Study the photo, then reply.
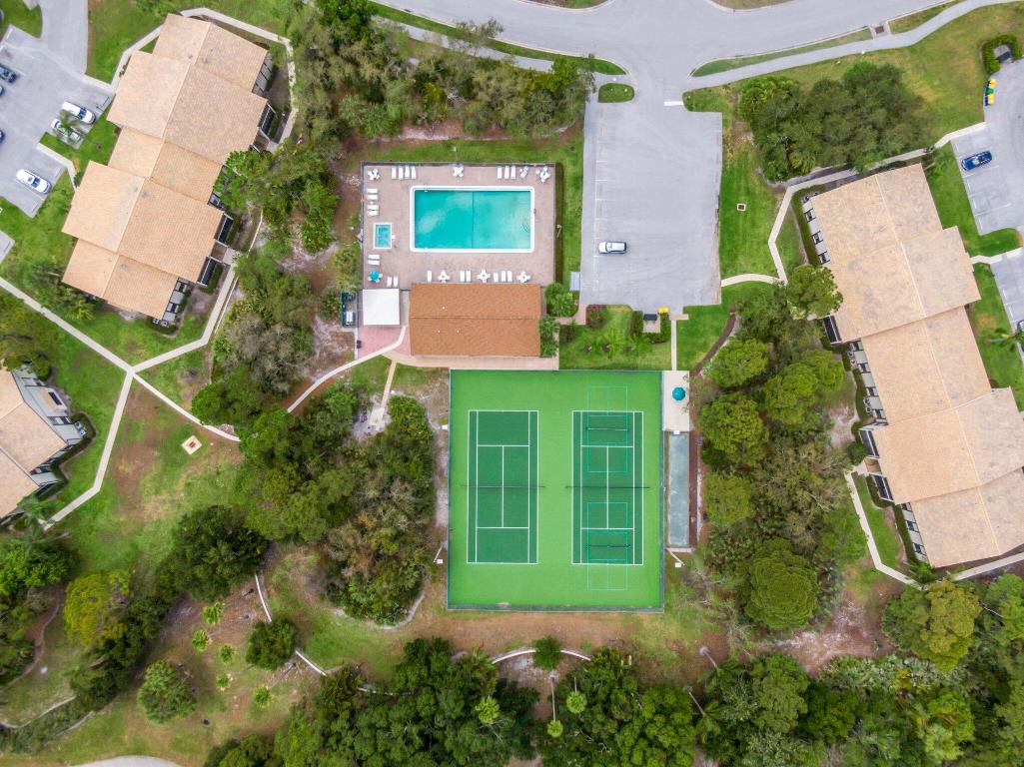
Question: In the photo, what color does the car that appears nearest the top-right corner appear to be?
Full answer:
In this view, the car that appears nearest the top-right corner is blue.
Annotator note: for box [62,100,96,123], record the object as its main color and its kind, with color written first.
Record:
white car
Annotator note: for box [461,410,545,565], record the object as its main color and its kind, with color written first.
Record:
green tennis court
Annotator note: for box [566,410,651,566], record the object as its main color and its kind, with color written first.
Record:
green tennis court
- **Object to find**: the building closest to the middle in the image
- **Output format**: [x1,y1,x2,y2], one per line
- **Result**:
[407,283,541,356]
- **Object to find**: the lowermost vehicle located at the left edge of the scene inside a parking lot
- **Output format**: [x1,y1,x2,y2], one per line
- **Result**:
[18,170,51,193]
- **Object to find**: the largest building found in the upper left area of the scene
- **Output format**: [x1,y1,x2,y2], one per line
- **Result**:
[62,12,278,319]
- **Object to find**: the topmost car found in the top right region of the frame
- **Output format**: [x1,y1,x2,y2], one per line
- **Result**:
[959,150,992,172]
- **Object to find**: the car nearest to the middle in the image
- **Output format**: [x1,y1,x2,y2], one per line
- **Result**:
[599,239,627,254]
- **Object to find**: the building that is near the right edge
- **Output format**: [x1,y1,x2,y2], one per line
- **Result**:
[805,163,1024,567]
